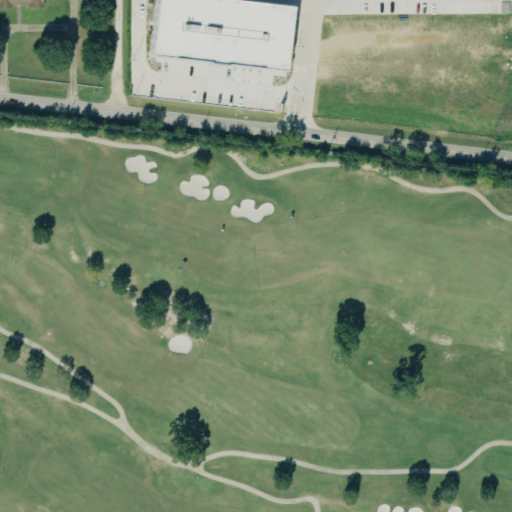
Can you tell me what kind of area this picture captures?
golf course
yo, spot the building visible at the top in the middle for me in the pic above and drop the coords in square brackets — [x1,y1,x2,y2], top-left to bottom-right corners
[153,0,298,72]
